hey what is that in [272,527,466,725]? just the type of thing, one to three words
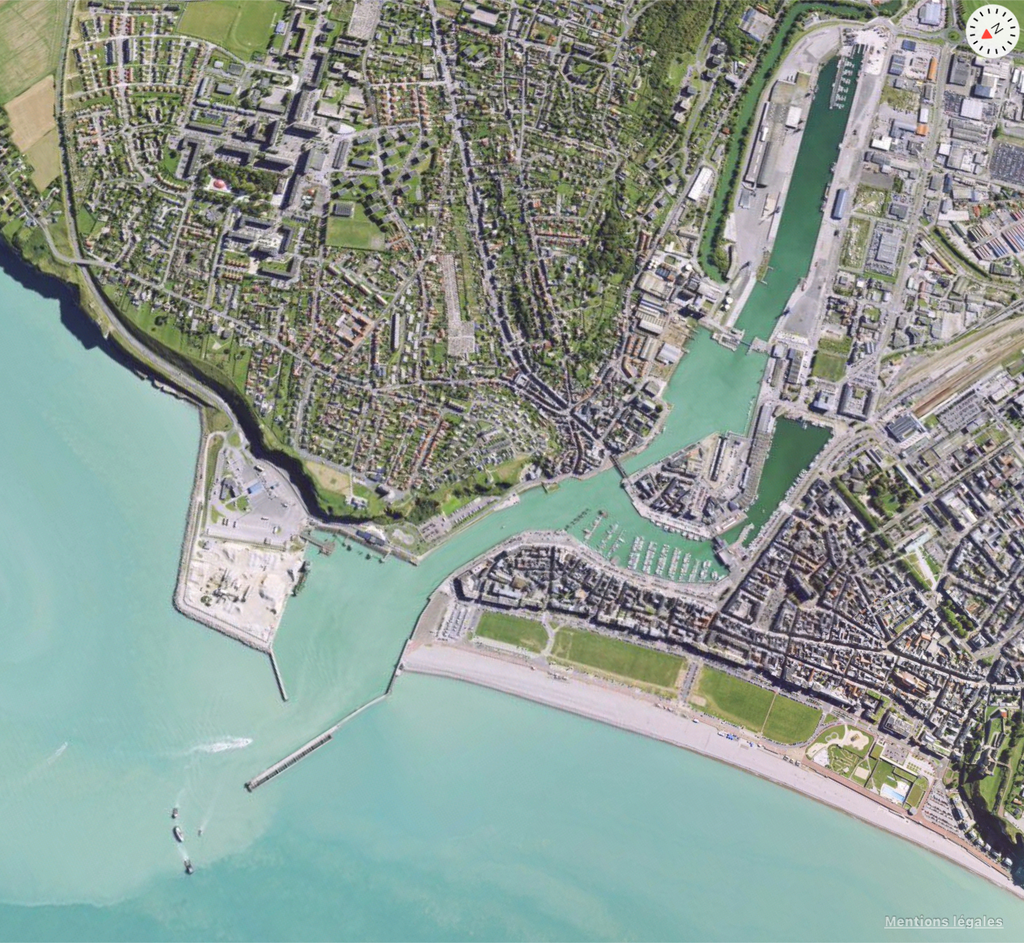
harbor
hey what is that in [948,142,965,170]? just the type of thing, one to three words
building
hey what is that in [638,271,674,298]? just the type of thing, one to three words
building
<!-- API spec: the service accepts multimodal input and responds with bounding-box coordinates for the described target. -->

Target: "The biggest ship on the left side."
[292,562,307,593]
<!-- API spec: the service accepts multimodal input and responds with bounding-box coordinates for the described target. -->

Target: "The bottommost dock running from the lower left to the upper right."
[245,627,419,791]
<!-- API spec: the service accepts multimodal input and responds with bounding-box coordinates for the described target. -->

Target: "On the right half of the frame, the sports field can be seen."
[812,353,847,380]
